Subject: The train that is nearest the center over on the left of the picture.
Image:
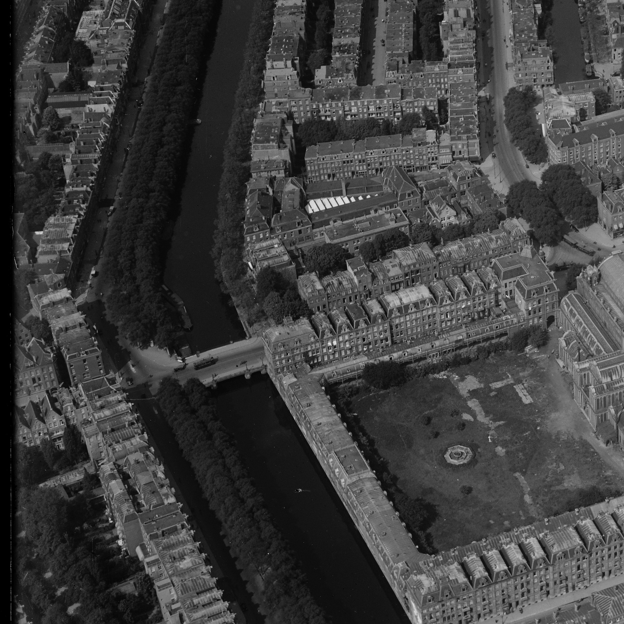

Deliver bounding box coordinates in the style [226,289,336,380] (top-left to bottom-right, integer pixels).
[192,356,214,369]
